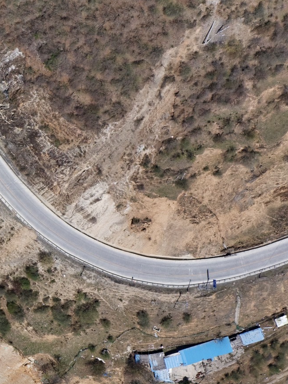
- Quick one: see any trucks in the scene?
No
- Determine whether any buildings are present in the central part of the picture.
No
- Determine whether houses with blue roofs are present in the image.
Yes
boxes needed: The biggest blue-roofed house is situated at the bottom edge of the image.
[174,337,233,366]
